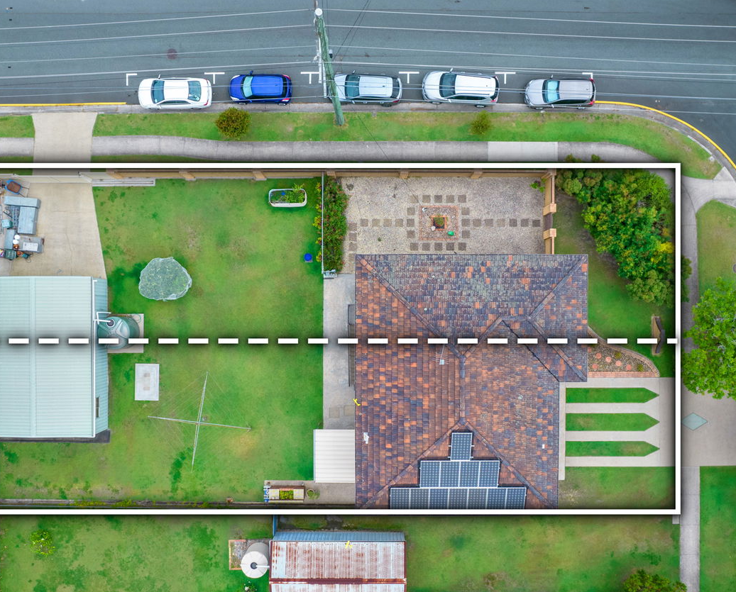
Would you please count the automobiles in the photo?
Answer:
5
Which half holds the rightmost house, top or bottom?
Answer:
bottom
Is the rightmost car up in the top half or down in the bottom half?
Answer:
top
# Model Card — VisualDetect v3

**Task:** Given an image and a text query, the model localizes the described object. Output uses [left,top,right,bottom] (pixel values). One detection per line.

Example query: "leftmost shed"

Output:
[0,274,108,440]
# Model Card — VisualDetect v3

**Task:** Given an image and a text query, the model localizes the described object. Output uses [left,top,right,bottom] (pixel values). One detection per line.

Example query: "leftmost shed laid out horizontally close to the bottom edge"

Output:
[268,532,407,592]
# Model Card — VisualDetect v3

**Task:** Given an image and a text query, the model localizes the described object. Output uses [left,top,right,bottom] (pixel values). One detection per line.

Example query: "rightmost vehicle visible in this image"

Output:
[522,72,595,111]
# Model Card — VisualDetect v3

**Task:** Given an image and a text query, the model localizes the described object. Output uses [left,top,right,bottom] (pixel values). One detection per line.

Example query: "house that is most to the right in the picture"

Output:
[349,253,590,519]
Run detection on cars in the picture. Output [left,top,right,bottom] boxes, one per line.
[421,69,499,109]
[229,71,293,108]
[140,73,214,111]
[336,70,403,108]
[522,72,595,111]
